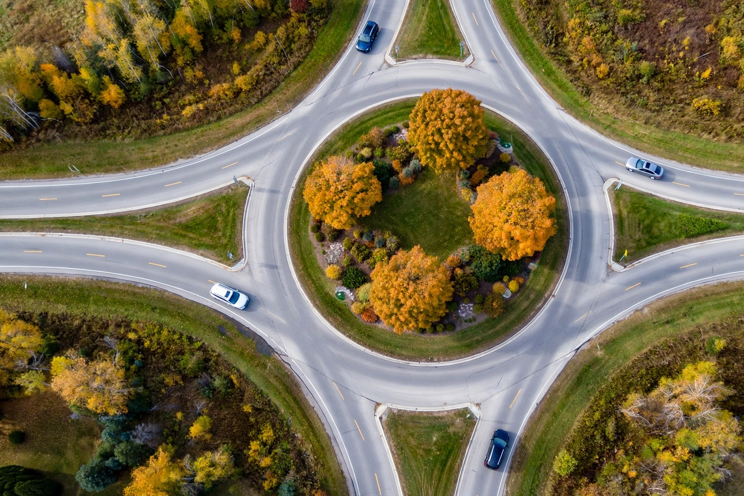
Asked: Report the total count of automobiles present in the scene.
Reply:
four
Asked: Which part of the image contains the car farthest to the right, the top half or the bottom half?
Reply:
top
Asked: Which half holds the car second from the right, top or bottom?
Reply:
bottom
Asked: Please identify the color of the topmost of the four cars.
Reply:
blue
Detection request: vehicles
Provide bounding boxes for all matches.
[624,159,665,182]
[356,22,380,55]
[208,282,250,310]
[483,429,510,473]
